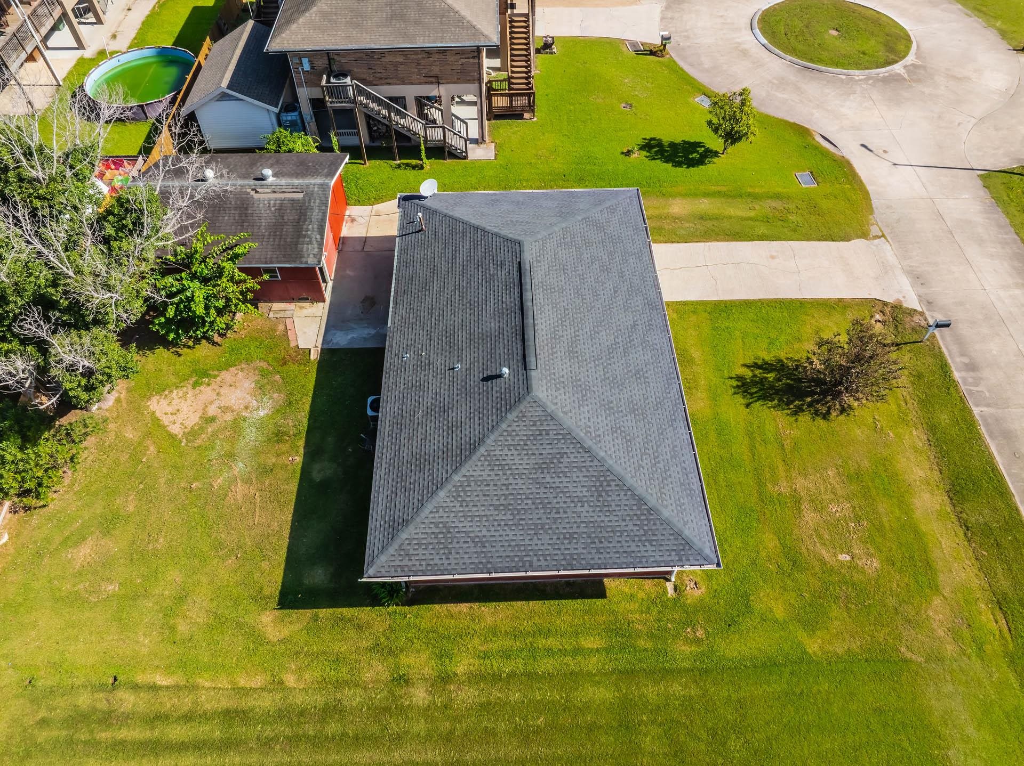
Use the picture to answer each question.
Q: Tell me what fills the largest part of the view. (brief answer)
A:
grass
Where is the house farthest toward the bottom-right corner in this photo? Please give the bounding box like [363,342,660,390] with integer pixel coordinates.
[363,187,722,593]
